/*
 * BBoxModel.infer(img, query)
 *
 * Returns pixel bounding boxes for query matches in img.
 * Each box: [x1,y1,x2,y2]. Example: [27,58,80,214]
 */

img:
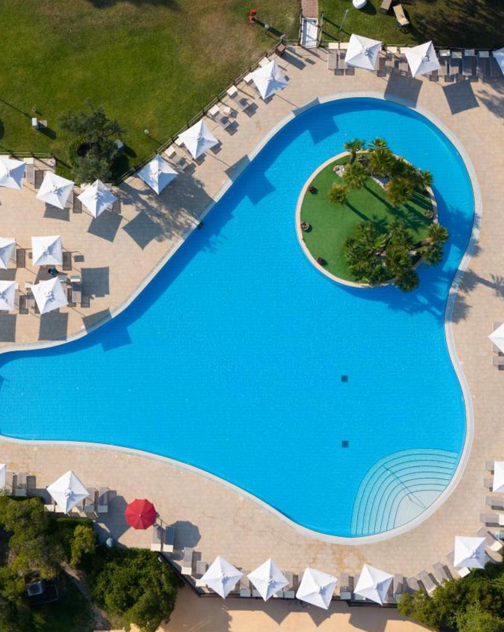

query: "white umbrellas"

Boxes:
[343,35,379,72]
[36,171,75,210]
[0,237,17,271]
[31,235,63,266]
[137,155,178,196]
[76,182,118,220]
[48,470,89,512]
[489,461,504,492]
[0,156,28,192]
[487,321,504,354]
[247,558,288,599]
[201,557,242,597]
[297,568,335,606]
[30,276,68,314]
[354,562,392,603]
[248,59,290,101]
[402,42,439,80]
[0,282,16,311]
[177,119,219,161]
[452,535,484,567]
